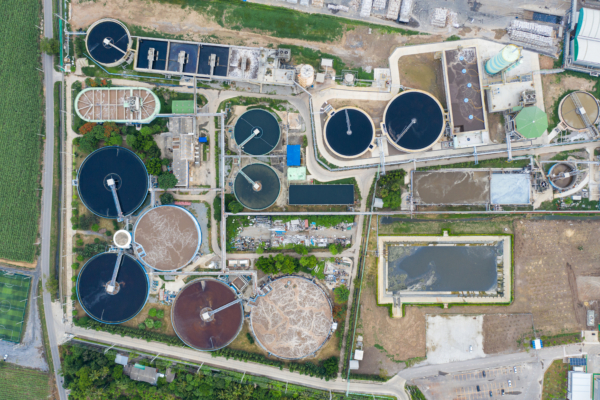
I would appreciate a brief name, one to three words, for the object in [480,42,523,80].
silo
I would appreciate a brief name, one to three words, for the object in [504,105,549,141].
storage tank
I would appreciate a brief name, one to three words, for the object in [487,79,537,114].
building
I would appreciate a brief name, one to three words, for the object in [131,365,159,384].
house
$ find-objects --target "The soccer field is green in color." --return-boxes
[0,269,35,348]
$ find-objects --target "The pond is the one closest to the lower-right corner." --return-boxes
[369,229,512,318]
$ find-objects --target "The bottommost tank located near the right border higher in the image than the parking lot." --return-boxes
[544,162,589,191]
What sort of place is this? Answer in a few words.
industrial area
